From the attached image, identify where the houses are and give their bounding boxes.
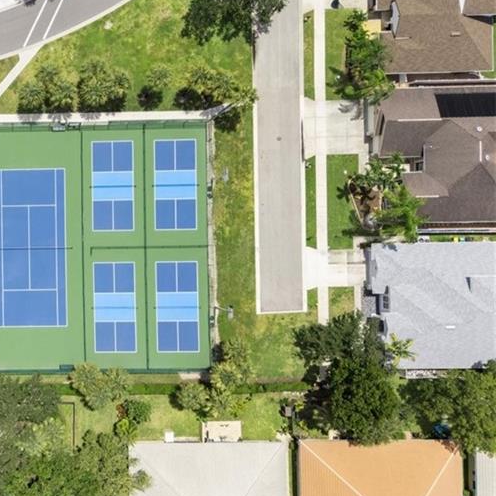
[295,439,463,496]
[371,88,496,222]
[129,441,290,496]
[361,0,496,75]
[362,242,496,370]
[464,445,496,496]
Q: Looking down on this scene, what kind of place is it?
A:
residential area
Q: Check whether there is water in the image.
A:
No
